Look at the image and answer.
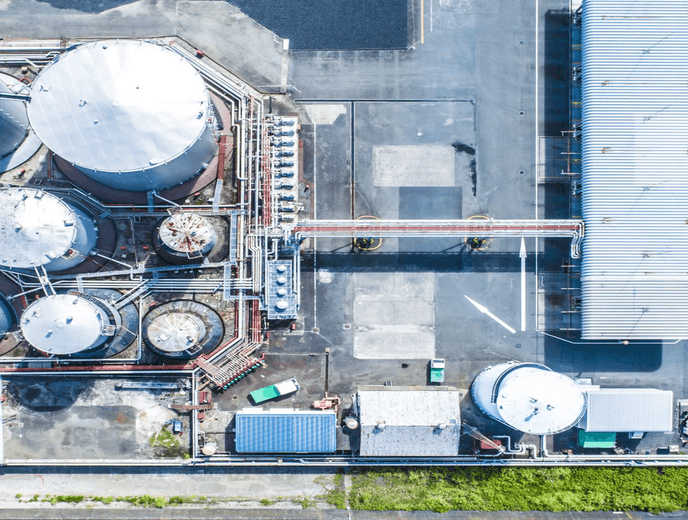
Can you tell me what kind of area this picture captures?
industrial area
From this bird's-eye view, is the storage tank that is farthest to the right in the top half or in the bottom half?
bottom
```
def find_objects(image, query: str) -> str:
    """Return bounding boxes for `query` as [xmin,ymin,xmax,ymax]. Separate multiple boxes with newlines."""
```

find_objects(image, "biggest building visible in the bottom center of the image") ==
[356,380,462,456]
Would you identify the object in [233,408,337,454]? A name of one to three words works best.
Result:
building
